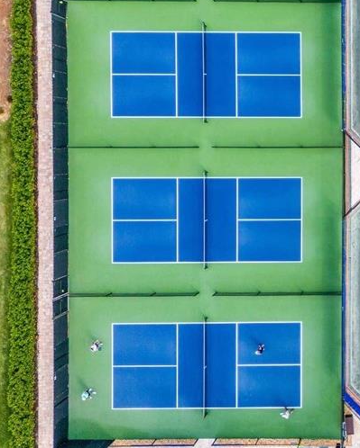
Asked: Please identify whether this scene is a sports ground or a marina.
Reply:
sports ground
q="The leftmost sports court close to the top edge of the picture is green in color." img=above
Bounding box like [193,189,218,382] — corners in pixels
[66,0,339,147]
